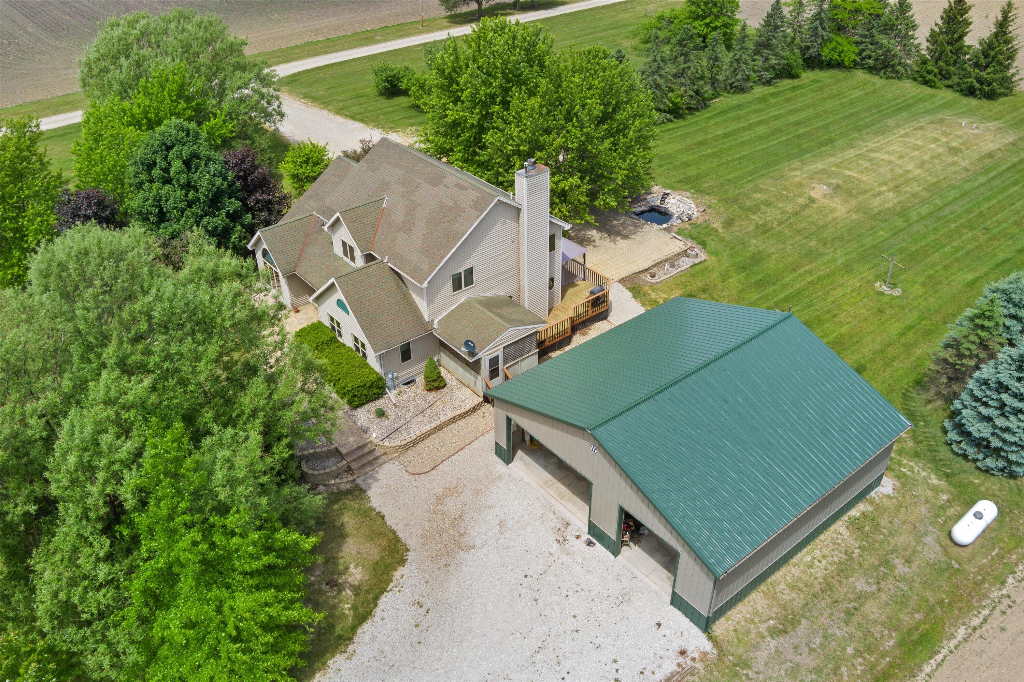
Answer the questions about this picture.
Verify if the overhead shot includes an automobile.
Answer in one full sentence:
No, I find no automobile anywhere in the image.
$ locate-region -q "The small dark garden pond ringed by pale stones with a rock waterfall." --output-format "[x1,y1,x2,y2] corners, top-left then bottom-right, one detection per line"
[625,187,702,229]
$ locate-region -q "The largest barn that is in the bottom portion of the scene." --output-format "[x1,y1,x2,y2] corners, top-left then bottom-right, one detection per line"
[483,297,914,642]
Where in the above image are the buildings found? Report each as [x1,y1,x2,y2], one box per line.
[483,297,914,642]
[247,136,573,404]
